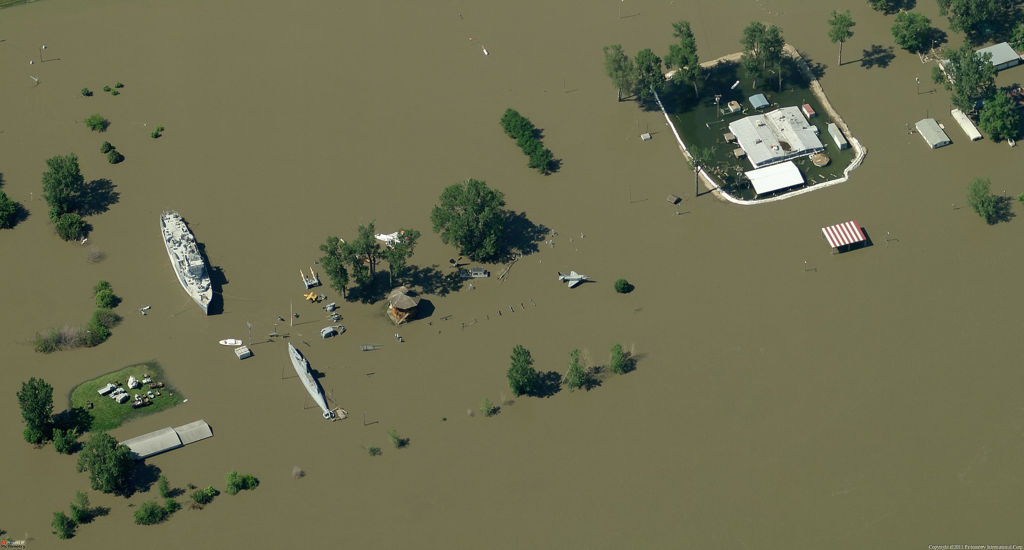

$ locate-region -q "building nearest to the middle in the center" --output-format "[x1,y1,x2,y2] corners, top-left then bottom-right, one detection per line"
[387,286,420,320]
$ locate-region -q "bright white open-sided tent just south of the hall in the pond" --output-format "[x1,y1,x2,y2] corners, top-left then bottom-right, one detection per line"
[745,161,804,196]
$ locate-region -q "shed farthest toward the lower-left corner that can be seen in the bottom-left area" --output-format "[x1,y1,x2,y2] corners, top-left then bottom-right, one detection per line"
[123,427,182,464]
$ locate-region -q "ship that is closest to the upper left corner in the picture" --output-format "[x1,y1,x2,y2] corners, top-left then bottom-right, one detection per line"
[162,211,210,313]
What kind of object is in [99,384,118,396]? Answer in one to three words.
vehicle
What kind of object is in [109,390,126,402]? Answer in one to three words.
vehicle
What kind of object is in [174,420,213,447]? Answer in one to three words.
shed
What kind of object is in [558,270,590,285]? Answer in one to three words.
airplane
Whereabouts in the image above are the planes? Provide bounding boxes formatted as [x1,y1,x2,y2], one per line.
[558,270,590,285]
[304,292,318,302]
[375,228,410,244]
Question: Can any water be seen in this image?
Yes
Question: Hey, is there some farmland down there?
No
